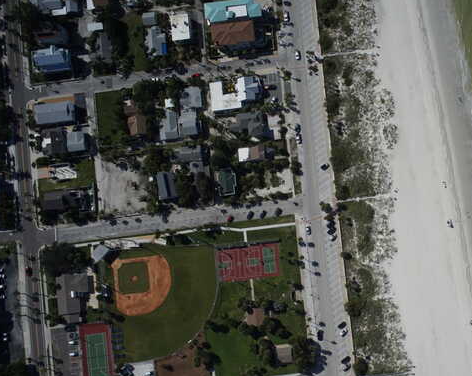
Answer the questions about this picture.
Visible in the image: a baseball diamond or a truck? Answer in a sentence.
The image shows a baseball diamond.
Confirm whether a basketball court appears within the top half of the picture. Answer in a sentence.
No, no basketball court is visible within the top half of the picture.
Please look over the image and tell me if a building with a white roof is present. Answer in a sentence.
Yes, the image includes a building with a white roof.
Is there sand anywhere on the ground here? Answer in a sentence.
Yes, the picture does contain sand.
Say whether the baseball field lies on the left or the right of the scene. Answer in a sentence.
The baseball field appears in the left half of the scene.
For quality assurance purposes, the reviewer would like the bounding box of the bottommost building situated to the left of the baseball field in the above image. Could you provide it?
[55,274,89,322]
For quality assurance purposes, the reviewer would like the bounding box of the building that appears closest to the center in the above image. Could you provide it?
[215,168,238,197]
